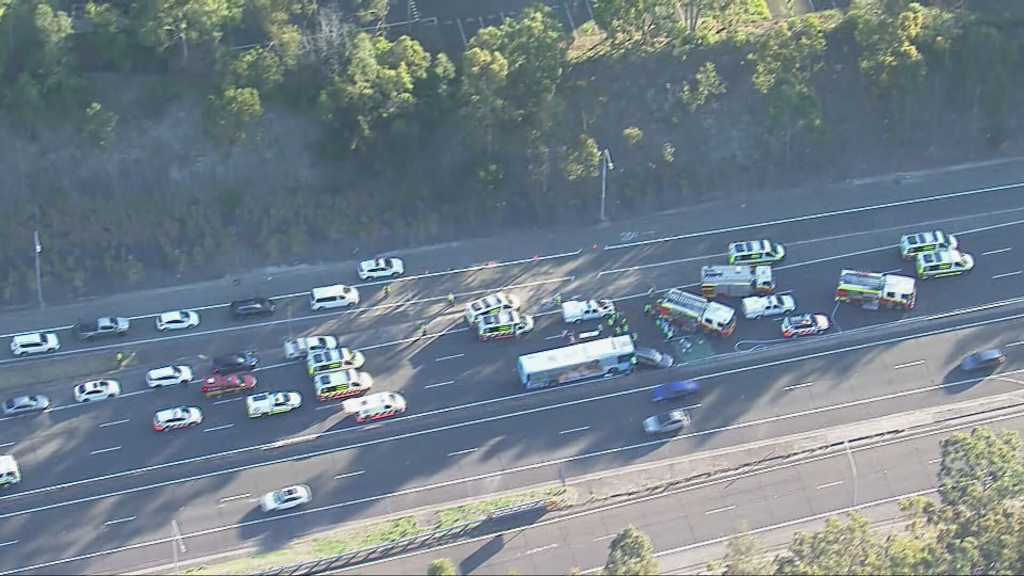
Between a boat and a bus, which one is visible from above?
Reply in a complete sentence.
This aerial view contains a bus.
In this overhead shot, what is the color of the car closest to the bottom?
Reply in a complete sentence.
The car closest to the bottom is white.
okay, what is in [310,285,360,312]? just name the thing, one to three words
vehicle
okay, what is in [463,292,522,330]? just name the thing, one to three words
van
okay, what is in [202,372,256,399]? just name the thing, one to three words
truck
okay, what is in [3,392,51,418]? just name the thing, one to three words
car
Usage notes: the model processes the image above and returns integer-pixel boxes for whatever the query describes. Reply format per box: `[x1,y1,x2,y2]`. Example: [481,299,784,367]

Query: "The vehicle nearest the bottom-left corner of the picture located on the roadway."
[0,455,24,484]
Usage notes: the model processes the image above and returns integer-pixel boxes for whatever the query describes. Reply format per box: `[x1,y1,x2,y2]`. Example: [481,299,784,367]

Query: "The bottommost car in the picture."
[260,486,311,514]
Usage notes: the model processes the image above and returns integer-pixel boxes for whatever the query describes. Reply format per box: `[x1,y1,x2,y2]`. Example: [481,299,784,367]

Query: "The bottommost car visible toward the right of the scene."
[643,410,690,436]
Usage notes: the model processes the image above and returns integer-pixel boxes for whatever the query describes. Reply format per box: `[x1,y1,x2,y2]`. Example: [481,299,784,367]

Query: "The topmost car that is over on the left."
[358,257,404,282]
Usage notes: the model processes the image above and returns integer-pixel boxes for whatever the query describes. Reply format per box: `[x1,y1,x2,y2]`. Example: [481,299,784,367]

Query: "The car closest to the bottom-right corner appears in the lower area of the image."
[959,350,1004,374]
